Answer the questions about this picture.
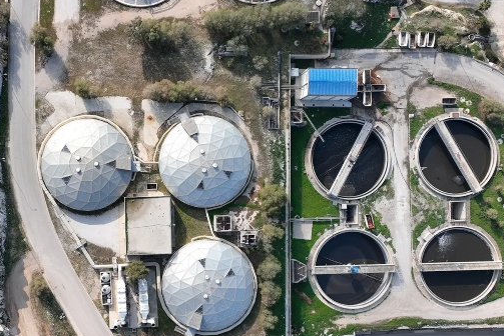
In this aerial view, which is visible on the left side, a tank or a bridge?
tank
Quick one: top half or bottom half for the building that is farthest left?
bottom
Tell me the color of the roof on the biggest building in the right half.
blue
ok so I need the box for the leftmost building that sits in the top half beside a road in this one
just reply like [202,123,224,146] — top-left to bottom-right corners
[292,67,360,110]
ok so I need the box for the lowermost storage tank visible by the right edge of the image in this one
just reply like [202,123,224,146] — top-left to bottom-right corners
[413,223,503,309]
